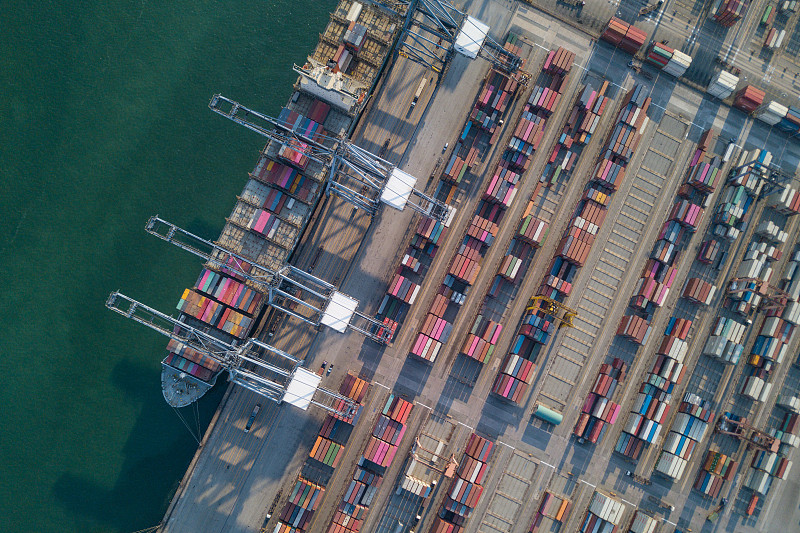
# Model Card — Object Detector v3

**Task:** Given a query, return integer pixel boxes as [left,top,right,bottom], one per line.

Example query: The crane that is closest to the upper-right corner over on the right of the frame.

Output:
[717,159,788,207]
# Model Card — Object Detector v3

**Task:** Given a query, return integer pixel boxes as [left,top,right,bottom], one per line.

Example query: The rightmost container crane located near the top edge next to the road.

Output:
[391,0,537,81]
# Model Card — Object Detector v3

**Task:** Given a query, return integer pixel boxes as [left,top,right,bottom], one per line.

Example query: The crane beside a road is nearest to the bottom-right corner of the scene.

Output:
[708,405,777,452]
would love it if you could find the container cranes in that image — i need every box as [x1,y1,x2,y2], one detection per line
[101,287,359,423]
[203,86,453,224]
[717,159,788,207]
[517,291,580,331]
[391,0,537,81]
[714,270,784,308]
[140,210,396,347]
[708,405,777,452]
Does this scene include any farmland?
No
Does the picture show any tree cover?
No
